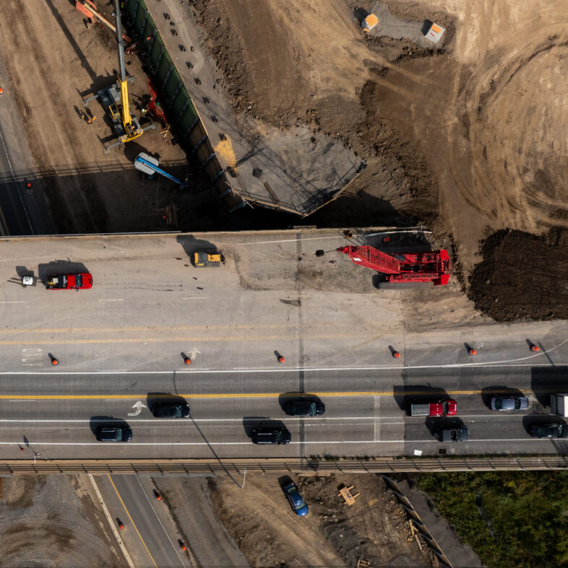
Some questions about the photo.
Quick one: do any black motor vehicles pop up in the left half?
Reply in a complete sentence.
Yes, I can see a black motor vehicle in the left half.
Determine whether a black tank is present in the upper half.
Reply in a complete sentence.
No, in the upper half there is no black tank.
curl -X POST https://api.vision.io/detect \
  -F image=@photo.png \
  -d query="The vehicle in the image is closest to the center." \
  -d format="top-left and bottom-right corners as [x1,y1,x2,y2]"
[196,252,225,268]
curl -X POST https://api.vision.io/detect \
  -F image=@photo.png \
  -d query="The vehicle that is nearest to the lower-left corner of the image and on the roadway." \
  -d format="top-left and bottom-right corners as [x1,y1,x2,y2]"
[96,425,132,442]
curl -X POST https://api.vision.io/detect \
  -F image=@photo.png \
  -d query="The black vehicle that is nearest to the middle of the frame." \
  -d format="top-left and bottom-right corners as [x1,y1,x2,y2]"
[285,400,323,417]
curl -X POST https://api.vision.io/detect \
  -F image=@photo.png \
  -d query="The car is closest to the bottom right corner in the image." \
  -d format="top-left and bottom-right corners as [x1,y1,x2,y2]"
[529,421,567,438]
